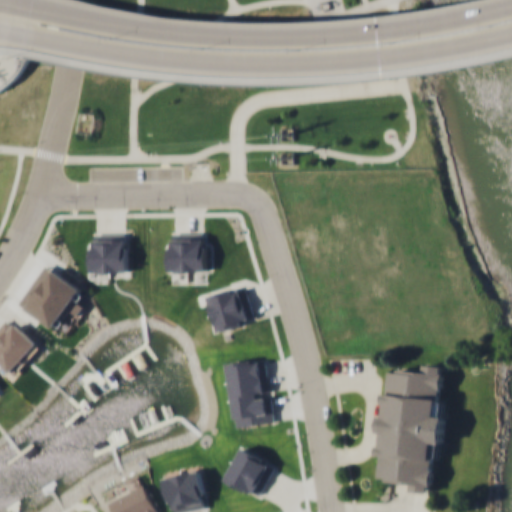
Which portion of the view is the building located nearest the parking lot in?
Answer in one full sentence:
Look in the bottom right portion of the view to spot the building located nearest the parking lot.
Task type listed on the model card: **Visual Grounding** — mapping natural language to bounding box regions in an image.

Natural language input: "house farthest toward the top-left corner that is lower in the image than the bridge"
[86,234,130,273]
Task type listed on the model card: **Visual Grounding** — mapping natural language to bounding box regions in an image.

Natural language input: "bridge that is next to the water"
[0,0,512,85]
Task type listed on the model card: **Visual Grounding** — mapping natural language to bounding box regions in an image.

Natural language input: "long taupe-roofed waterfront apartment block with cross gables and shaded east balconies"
[374,367,450,498]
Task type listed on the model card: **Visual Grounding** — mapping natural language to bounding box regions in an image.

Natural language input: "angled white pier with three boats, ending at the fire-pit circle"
[130,409,204,438]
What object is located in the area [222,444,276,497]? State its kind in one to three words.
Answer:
house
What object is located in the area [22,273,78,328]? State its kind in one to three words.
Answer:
house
